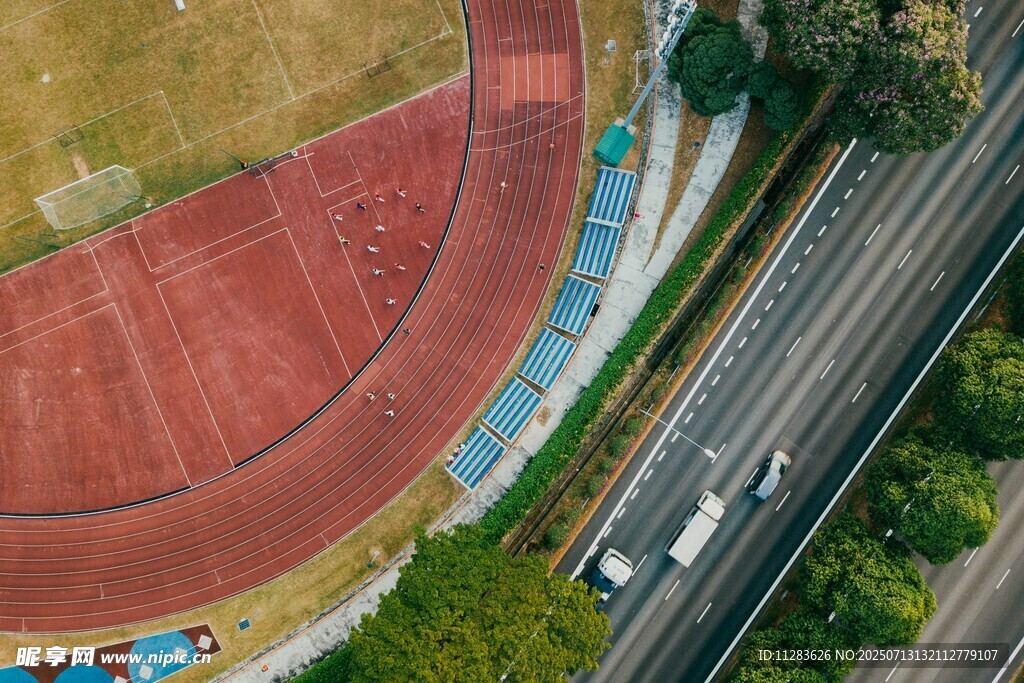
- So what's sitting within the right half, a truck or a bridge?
truck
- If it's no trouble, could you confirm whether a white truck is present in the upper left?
No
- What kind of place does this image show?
sports ground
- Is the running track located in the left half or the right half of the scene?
left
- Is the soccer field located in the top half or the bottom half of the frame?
top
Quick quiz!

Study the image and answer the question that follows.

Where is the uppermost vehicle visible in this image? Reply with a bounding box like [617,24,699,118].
[750,451,794,503]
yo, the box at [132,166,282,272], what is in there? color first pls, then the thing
red sports court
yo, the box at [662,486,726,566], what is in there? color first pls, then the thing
white truck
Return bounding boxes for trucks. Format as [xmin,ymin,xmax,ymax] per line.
[662,486,726,566]
[570,545,634,613]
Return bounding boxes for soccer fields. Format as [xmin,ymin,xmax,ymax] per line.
[0,0,469,275]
